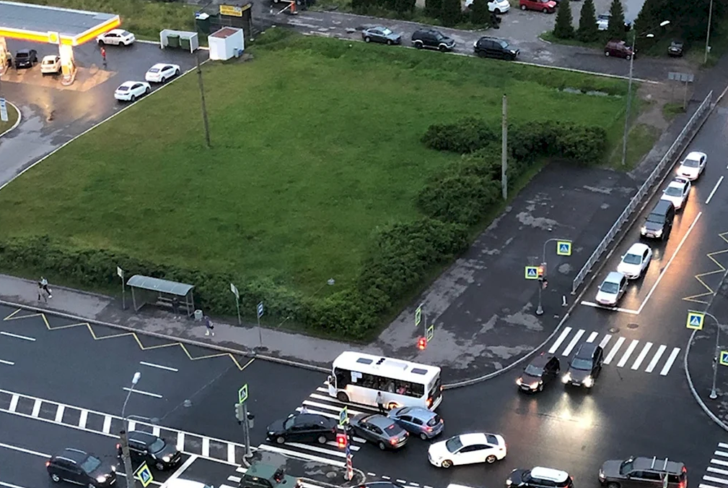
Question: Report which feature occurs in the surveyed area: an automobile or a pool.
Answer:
automobile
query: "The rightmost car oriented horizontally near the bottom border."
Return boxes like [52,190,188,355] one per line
[601,452,689,488]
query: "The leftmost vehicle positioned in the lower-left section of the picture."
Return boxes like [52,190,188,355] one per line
[43,443,119,488]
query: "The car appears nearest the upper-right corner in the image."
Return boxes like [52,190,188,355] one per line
[667,41,687,59]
